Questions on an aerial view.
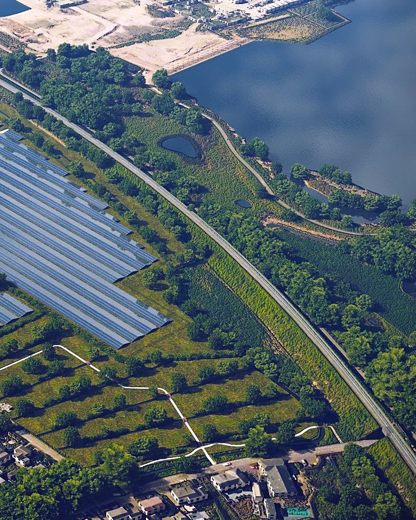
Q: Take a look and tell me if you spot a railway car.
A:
No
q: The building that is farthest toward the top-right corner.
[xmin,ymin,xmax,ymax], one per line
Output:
[256,0,317,15]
